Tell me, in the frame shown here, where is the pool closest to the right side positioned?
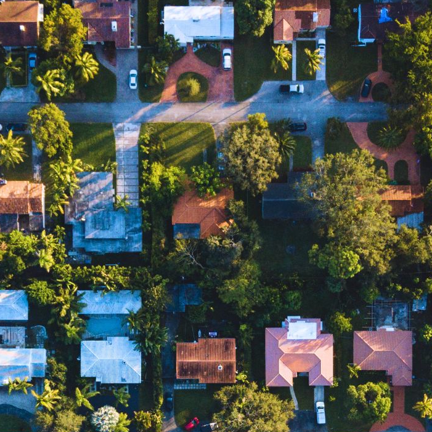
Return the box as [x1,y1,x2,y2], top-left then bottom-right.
[83,316,125,335]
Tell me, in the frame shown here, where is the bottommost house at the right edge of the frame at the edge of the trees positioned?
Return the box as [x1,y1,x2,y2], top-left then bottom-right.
[352,328,412,387]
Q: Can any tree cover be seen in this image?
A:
Yes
